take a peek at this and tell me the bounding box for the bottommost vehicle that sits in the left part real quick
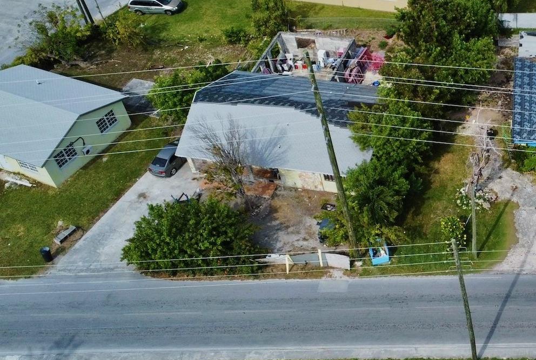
[142,134,184,178]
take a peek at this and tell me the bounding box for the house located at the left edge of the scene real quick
[0,68,132,187]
